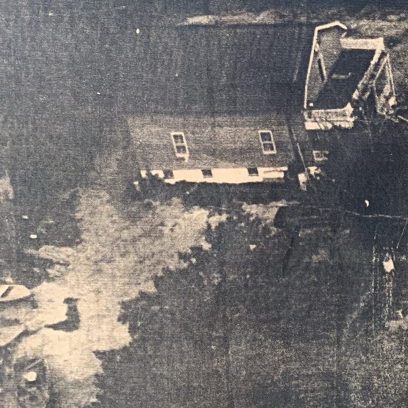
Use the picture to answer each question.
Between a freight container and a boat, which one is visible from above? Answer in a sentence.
The image shows a boat.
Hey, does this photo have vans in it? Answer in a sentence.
No, this view has no van in it.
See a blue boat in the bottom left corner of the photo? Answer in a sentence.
No, I see no blue boat in the bottom left corner of the photo.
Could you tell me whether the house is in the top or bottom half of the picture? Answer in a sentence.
The house is in the top half of the image.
